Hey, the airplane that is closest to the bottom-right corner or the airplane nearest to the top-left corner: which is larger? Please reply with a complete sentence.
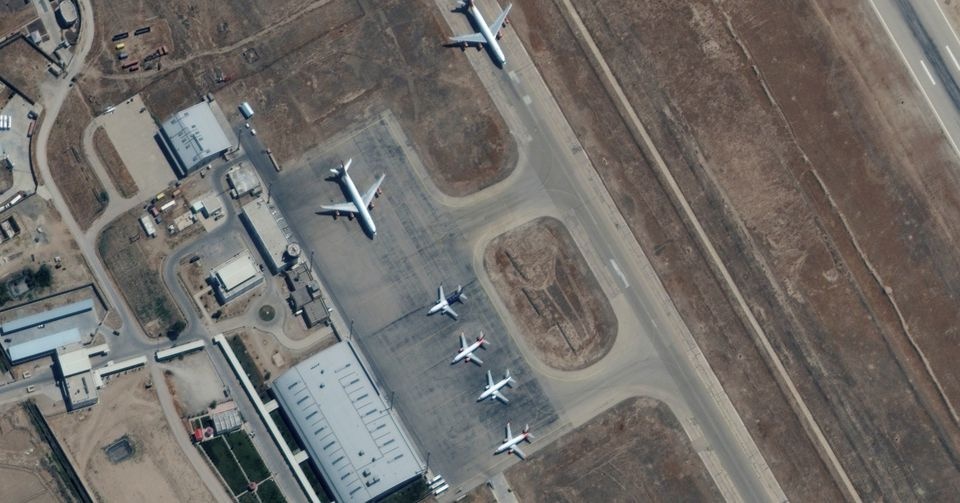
Compared with the airplane that is closest to the bottom-right corner, the airplane nearest to the top-left corner is the bigger one.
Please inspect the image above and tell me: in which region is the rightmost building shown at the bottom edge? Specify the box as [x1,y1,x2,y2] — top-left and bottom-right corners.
[273,342,428,503]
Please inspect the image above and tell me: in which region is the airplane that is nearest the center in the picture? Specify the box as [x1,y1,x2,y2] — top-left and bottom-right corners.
[428,286,465,316]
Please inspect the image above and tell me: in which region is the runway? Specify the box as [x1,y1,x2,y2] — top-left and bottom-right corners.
[863,0,960,165]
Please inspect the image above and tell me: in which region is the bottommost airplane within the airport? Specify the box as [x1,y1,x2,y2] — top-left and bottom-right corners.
[493,423,532,456]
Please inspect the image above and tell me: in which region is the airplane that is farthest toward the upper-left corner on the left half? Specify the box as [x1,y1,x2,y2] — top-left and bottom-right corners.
[319,160,389,237]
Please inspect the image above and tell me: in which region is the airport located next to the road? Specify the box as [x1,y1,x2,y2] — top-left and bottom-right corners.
[269,0,960,503]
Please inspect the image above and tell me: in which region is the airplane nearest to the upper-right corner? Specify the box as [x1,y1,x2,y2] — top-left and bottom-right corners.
[448,0,518,64]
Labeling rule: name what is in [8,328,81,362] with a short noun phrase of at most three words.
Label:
shed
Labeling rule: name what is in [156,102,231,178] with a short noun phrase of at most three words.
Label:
hangar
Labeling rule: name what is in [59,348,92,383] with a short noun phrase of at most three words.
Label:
building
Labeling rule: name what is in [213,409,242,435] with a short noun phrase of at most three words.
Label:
greenhouse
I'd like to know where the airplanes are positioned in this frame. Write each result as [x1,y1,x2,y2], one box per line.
[319,160,389,237]
[448,0,518,64]
[452,333,488,362]
[428,286,465,316]
[493,423,532,456]
[476,372,516,402]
